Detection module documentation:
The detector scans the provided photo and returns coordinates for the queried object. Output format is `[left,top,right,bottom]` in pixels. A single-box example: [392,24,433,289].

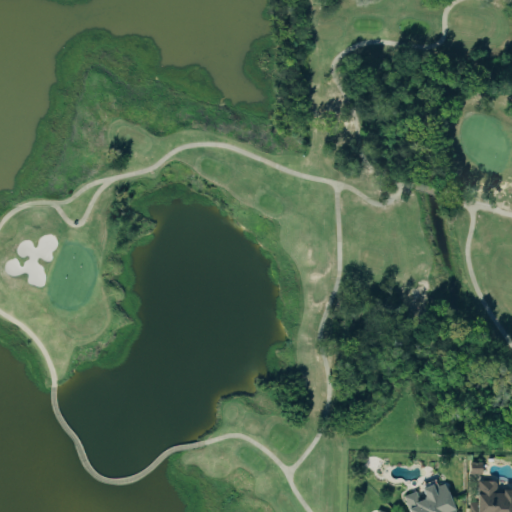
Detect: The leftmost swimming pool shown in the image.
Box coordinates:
[391,467,420,486]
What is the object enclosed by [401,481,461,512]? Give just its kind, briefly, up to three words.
house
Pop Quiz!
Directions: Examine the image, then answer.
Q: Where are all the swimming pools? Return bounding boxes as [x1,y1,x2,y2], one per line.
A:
[391,467,420,486]
[491,465,512,478]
